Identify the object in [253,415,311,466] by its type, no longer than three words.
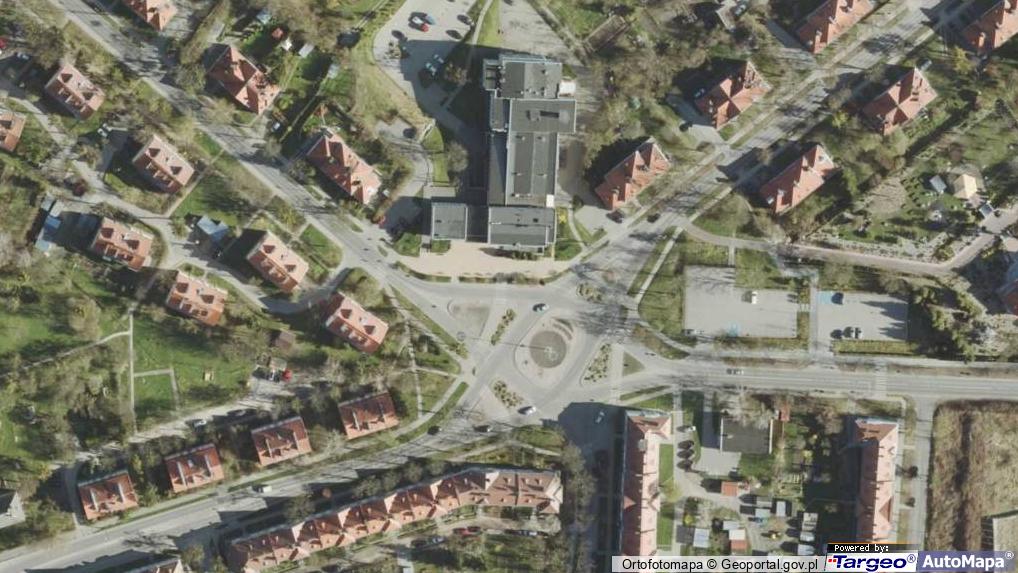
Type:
house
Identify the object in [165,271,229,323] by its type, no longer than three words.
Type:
house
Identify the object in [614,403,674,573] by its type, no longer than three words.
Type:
building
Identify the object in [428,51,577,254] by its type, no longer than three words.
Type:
building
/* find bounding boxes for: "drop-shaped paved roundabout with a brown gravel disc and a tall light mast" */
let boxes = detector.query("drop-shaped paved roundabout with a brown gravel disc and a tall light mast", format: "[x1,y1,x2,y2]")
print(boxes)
[515,310,581,387]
